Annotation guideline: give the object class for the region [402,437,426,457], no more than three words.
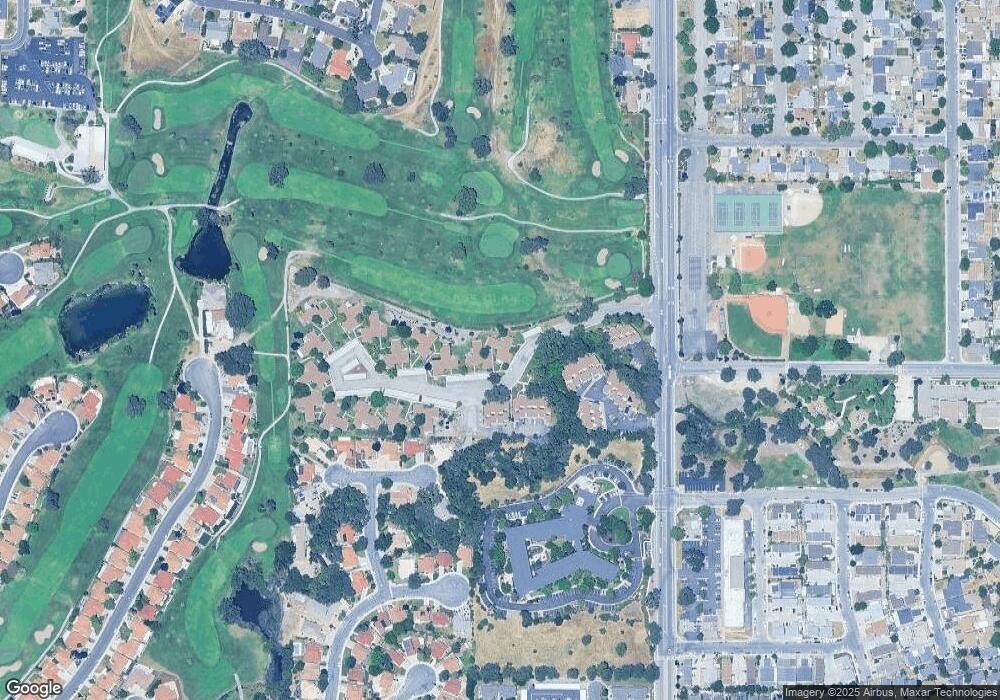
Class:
house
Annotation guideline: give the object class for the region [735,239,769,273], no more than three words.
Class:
baseball field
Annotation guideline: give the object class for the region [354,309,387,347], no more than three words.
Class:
building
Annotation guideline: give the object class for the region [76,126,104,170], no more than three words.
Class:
barn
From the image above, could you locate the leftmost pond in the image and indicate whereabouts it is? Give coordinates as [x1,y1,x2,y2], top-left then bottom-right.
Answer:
[60,284,152,358]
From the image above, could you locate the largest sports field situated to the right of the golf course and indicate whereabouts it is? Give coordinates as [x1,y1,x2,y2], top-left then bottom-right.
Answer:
[784,188,944,361]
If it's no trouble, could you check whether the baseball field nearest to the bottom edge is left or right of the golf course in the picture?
on the right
